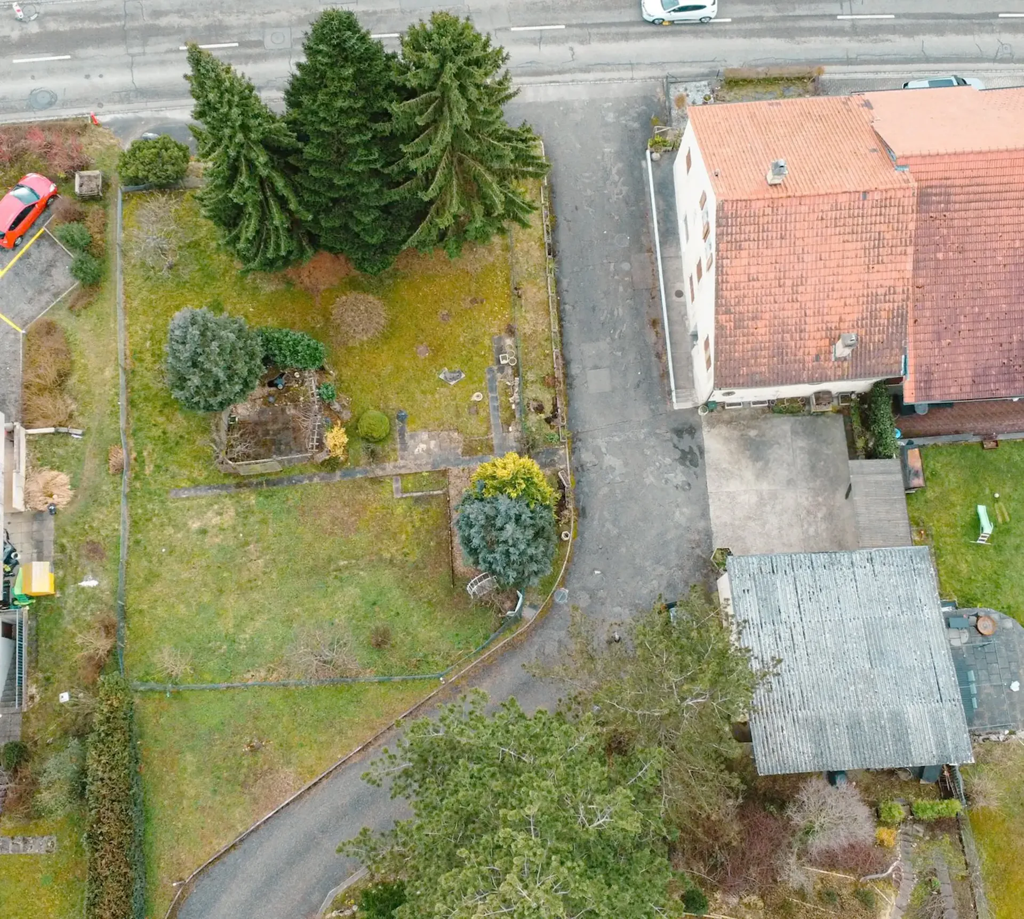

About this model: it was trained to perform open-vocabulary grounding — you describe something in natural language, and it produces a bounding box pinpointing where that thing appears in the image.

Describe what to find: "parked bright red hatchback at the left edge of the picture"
[0,176,56,250]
